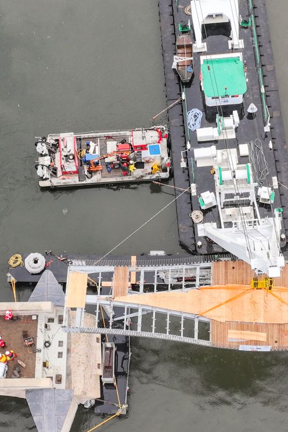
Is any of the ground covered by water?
Yes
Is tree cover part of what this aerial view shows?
No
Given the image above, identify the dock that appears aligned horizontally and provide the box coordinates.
[9,252,230,285]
